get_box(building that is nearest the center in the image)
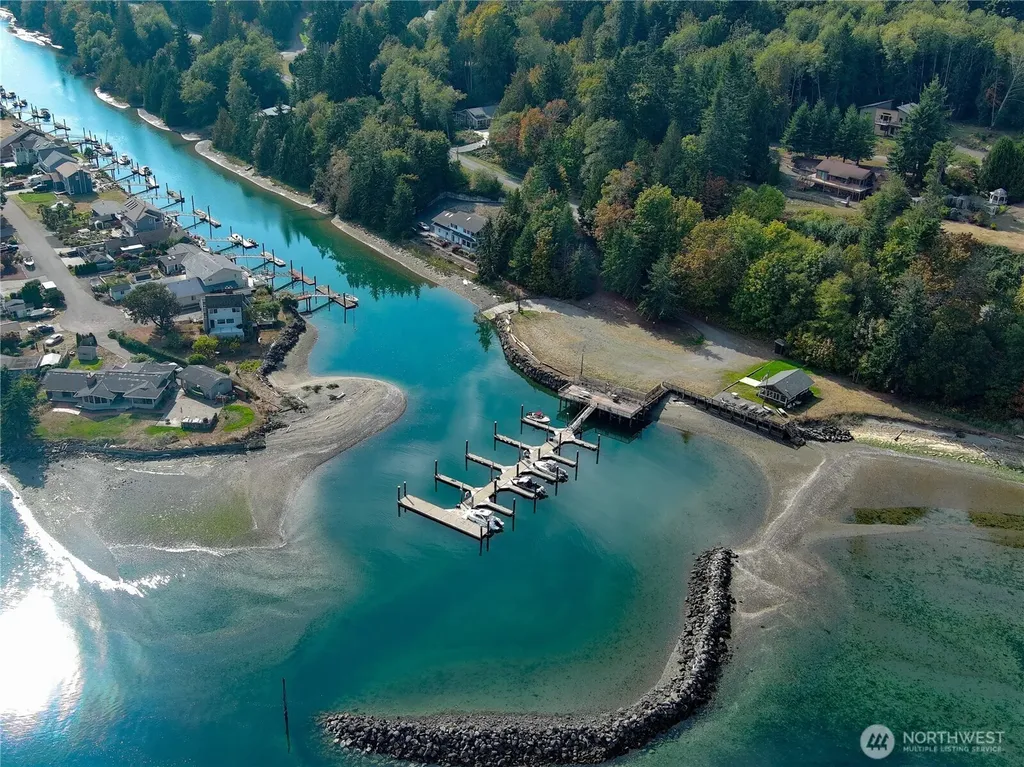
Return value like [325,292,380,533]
[436,211,493,249]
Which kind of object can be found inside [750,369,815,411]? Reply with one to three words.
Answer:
building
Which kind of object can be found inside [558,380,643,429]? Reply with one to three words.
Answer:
pier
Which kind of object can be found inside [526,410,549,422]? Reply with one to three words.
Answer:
boat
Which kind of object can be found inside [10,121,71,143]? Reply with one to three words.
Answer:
house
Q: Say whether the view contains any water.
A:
Yes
